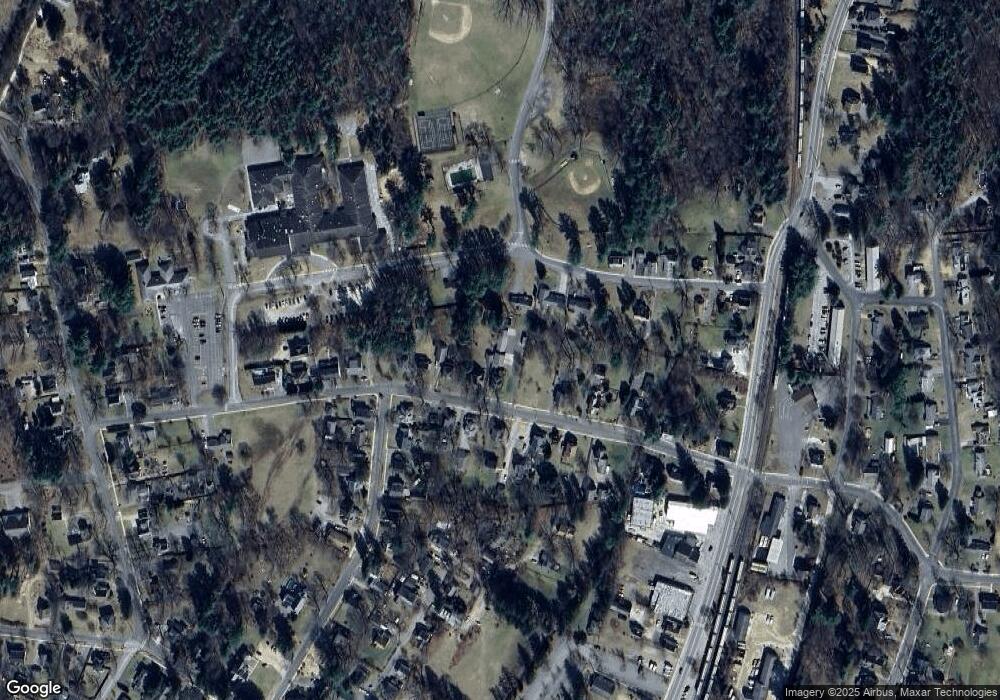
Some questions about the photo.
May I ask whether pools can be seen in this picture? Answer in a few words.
Yes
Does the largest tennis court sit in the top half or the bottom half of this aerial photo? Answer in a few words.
top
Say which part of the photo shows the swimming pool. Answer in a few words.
top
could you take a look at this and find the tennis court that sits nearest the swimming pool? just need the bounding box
[411,107,455,152]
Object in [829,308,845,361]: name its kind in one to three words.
building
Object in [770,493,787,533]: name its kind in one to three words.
building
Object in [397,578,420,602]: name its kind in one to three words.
house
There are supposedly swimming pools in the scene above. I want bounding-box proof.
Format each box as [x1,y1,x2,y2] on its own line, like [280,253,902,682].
[444,157,483,189]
